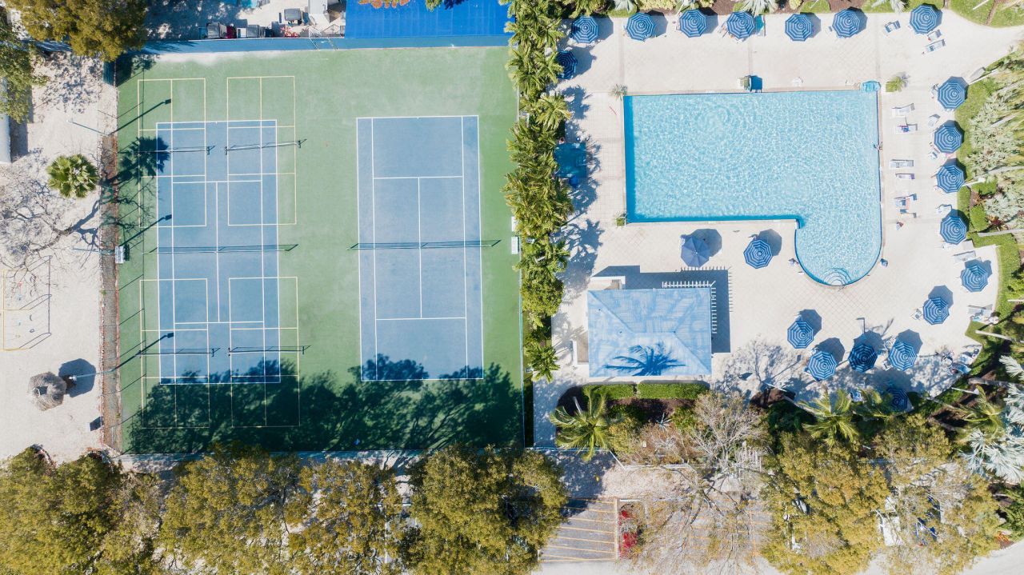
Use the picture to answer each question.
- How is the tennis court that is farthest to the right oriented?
vertically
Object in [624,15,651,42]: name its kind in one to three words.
umbrella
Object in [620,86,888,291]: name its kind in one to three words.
swimming pool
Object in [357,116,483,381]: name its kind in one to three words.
tennis court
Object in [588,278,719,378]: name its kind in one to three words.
building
